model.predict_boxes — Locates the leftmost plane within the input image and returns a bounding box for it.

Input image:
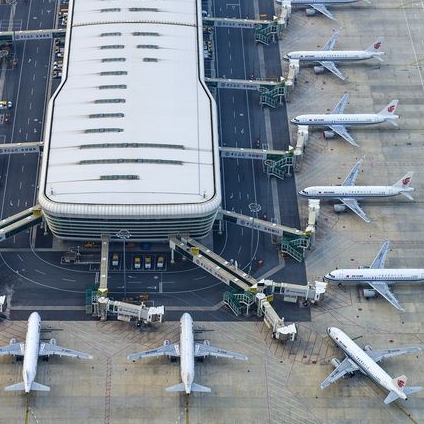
[0,311,89,394]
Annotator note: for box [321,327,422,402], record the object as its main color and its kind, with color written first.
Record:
white airplane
